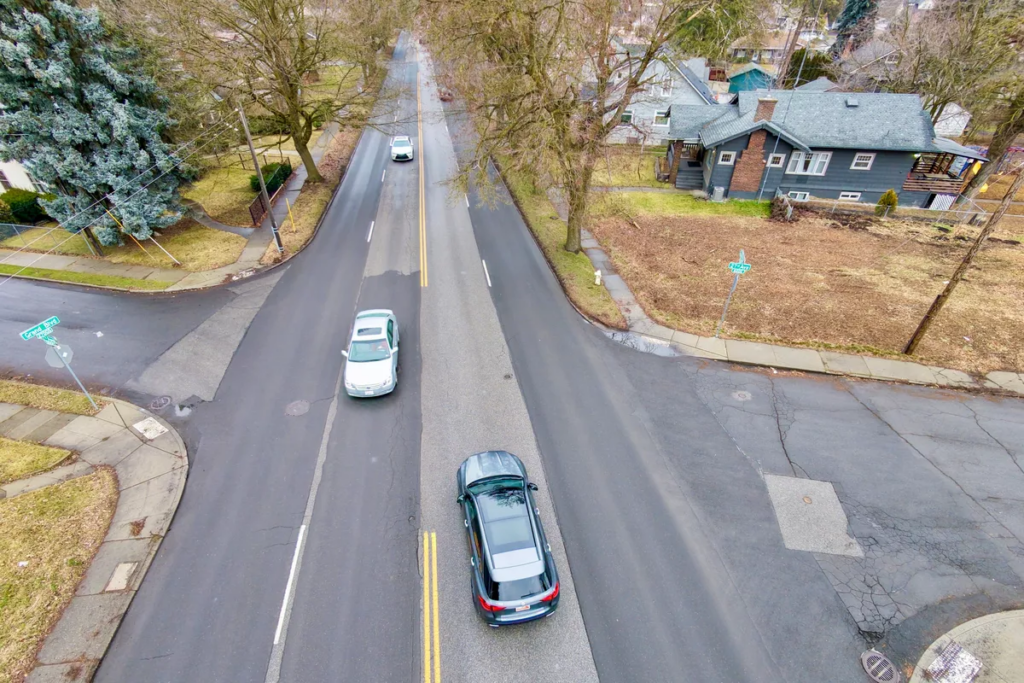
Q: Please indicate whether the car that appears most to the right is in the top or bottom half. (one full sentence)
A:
The car that appears most to the right sits in the bottom half of the picture.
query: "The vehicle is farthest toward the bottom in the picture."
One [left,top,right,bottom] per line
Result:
[458,451,559,628]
